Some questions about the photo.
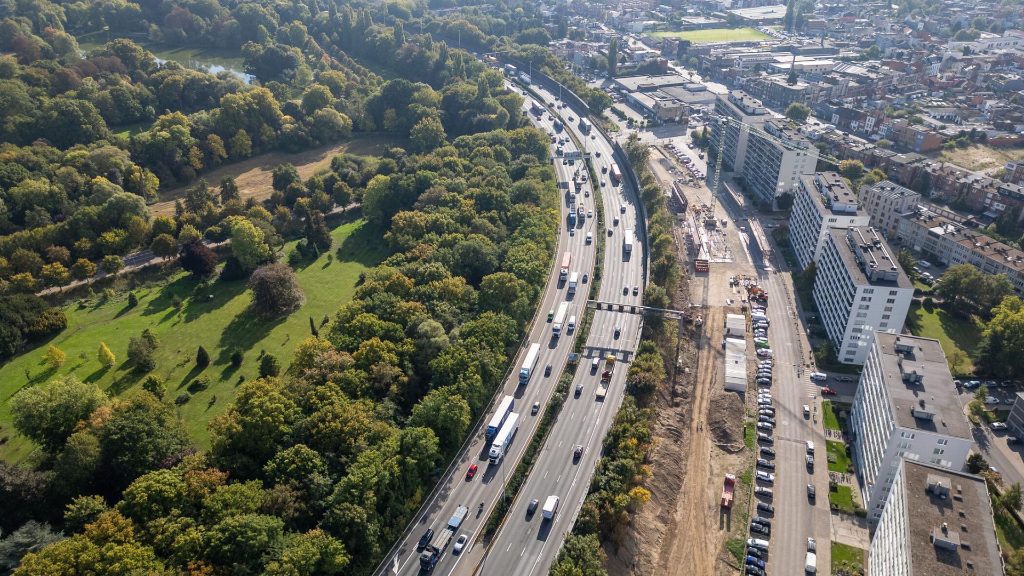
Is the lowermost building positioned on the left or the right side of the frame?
right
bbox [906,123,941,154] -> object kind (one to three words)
building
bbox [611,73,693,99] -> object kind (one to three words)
building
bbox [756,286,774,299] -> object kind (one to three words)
vehicle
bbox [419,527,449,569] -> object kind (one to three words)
truck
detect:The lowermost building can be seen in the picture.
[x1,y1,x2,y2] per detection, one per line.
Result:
[870,455,1007,576]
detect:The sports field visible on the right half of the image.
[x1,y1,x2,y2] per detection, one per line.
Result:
[656,28,773,43]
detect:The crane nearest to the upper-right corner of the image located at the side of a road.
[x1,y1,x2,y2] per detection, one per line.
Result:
[703,104,843,224]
